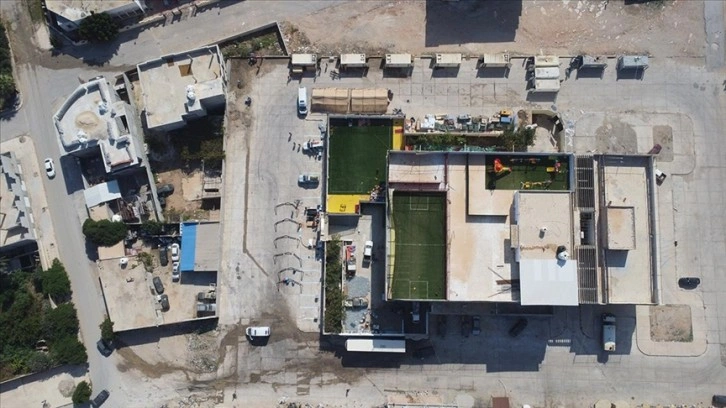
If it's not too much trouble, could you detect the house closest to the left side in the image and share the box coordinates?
[0,150,52,250]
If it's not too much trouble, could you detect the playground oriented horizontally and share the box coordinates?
[486,155,568,189]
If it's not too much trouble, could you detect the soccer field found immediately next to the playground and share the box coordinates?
[391,191,446,299]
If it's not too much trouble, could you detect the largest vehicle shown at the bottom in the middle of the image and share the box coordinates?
[345,338,406,353]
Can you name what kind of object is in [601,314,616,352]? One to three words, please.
vehicle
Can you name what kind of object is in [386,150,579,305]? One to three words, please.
building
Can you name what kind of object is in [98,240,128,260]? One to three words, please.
shed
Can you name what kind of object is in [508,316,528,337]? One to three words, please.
car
